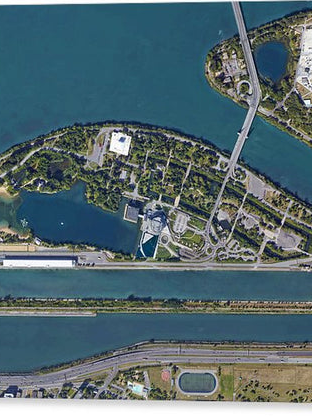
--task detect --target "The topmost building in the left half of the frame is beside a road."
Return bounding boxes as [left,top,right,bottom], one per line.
[109,132,131,156]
